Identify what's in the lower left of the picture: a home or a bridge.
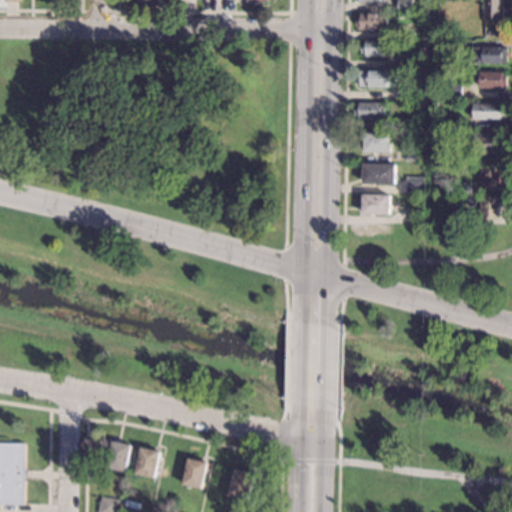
home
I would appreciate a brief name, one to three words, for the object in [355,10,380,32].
house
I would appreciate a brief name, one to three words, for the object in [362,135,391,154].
house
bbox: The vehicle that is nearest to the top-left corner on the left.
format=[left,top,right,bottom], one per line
[99,4,111,20]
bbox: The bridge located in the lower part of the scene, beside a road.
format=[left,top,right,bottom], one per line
[284,300,346,416]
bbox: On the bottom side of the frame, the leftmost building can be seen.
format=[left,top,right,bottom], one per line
[0,442,30,505]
